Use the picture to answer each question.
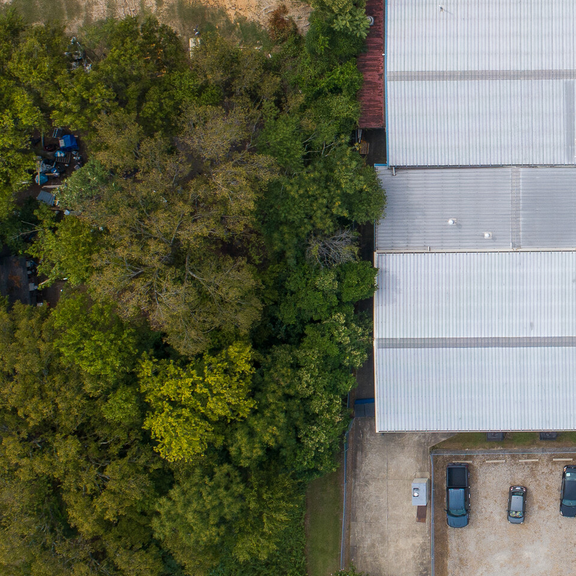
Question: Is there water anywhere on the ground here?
No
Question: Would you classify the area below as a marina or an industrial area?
industrial area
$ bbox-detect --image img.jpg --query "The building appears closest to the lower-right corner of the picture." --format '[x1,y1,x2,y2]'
[372,249,576,435]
